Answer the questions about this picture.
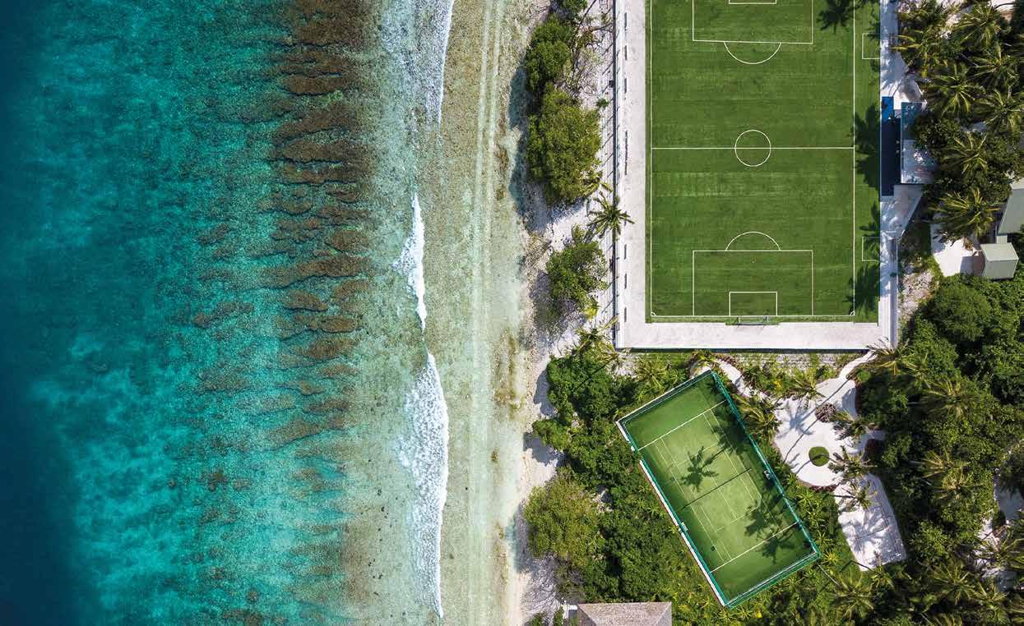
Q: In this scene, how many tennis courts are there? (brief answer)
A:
1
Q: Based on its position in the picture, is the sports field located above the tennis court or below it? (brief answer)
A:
above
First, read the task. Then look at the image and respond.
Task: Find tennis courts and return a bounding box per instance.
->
[618,371,815,604]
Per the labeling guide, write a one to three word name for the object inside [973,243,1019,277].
shed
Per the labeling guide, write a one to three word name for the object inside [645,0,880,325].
sports field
